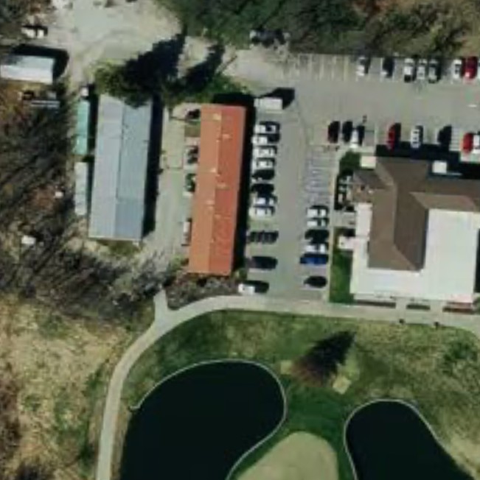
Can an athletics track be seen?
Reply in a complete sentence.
No, the frame has no athletics track in it.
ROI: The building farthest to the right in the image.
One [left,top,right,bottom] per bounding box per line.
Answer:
[337,155,480,305]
